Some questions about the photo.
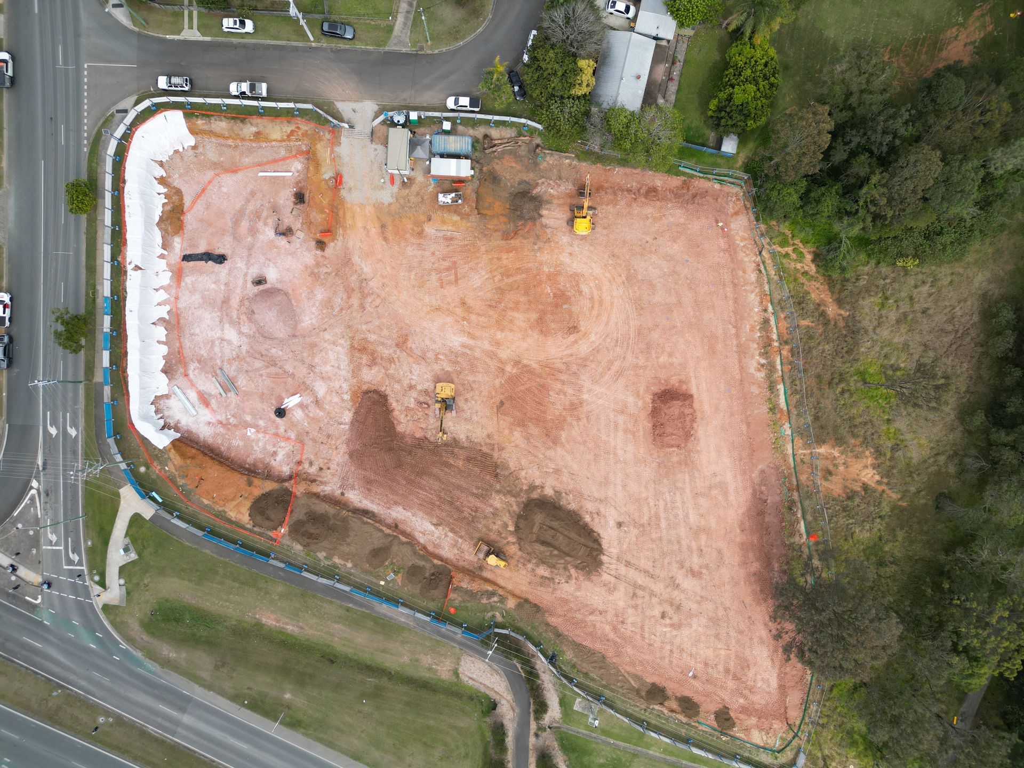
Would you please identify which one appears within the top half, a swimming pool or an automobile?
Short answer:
automobile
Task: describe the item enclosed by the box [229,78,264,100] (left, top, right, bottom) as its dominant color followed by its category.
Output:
white truck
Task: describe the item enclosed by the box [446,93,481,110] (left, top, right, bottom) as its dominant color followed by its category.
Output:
white vehicle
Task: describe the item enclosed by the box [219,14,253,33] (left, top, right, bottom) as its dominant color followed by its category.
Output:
white car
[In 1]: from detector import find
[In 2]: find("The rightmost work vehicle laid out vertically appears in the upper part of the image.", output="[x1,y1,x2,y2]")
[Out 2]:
[570,168,596,233]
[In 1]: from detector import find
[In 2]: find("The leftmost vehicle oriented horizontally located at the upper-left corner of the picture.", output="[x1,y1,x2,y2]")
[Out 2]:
[154,72,189,89]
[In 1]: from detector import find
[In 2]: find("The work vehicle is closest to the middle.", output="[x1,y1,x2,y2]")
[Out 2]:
[435,384,455,449]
